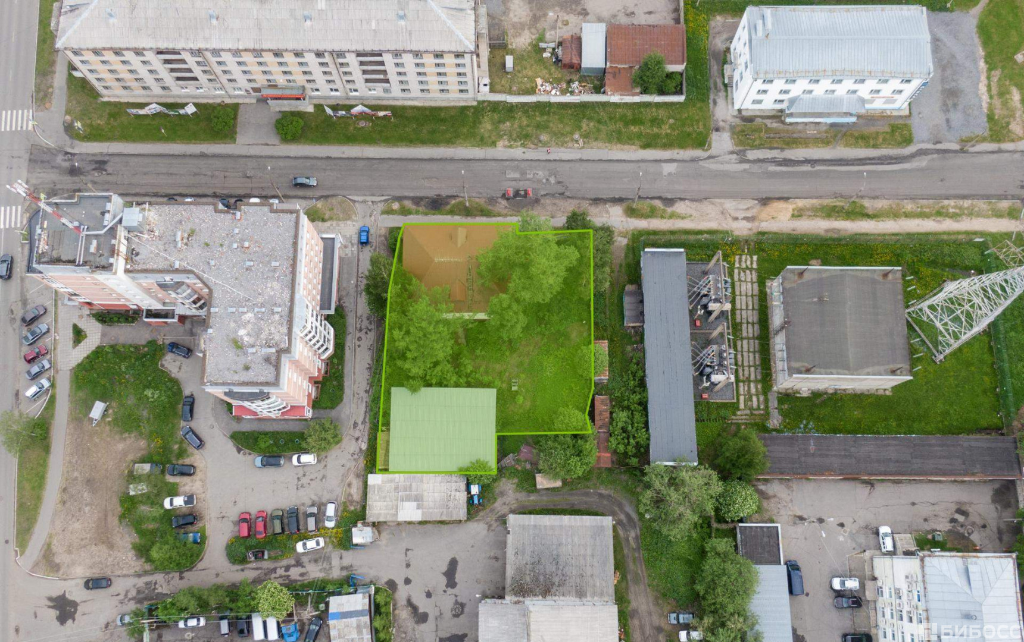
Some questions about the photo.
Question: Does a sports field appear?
No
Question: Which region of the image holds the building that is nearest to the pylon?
right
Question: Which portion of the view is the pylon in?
right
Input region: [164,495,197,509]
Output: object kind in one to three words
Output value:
vehicle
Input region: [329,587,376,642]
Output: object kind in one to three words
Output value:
shed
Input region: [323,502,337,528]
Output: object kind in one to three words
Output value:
car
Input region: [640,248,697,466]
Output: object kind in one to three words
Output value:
building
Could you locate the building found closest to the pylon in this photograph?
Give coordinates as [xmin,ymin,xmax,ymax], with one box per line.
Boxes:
[761,265,912,396]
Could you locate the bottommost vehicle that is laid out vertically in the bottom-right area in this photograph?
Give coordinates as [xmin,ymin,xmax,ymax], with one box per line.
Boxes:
[784,561,805,596]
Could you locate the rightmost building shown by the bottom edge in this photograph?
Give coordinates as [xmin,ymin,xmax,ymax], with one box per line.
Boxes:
[864,550,1024,642]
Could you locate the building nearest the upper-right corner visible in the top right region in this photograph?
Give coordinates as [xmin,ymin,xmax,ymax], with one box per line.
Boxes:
[723,2,932,123]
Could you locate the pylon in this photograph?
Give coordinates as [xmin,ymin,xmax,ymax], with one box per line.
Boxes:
[906,238,1024,362]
